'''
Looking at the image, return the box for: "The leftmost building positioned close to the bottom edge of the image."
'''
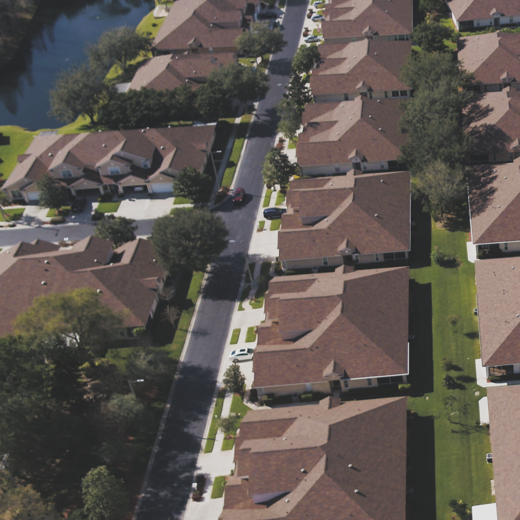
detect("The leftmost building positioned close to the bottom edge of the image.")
[212,393,408,520]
